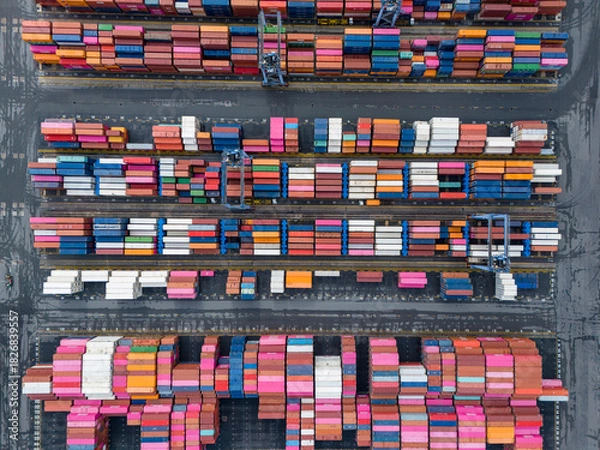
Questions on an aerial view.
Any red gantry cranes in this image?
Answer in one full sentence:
No, this view has no red gantry crane in it.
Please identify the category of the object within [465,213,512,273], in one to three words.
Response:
container crane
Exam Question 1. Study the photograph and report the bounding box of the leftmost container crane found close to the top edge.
[258,6,288,88]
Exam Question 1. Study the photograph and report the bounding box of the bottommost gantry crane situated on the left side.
[221,147,254,212]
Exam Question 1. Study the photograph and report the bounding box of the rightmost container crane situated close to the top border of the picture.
[370,0,405,29]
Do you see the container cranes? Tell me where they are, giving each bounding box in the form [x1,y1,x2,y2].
[221,147,254,212]
[370,0,405,29]
[465,213,512,273]
[258,6,288,88]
